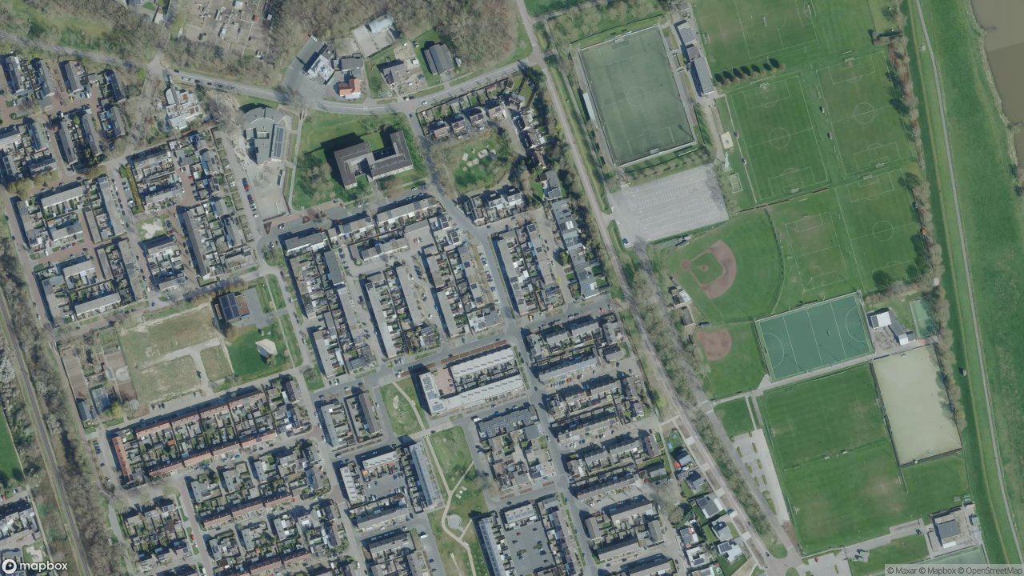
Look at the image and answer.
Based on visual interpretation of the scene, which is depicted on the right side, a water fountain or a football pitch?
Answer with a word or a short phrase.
football pitch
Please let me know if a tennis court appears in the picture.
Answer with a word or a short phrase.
Yes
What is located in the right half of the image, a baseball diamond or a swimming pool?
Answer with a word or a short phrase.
baseball diamond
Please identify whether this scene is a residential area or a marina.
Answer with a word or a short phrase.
residential area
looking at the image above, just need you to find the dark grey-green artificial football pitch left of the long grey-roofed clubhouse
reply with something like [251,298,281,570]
[580,26,698,165]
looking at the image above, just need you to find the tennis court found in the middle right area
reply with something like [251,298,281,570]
[909,298,937,337]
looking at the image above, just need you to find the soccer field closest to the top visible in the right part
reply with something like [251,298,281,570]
[733,0,820,61]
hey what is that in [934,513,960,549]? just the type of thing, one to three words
building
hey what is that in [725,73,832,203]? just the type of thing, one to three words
soccer field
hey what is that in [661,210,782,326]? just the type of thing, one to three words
baseball field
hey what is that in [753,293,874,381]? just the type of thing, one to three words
sports field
